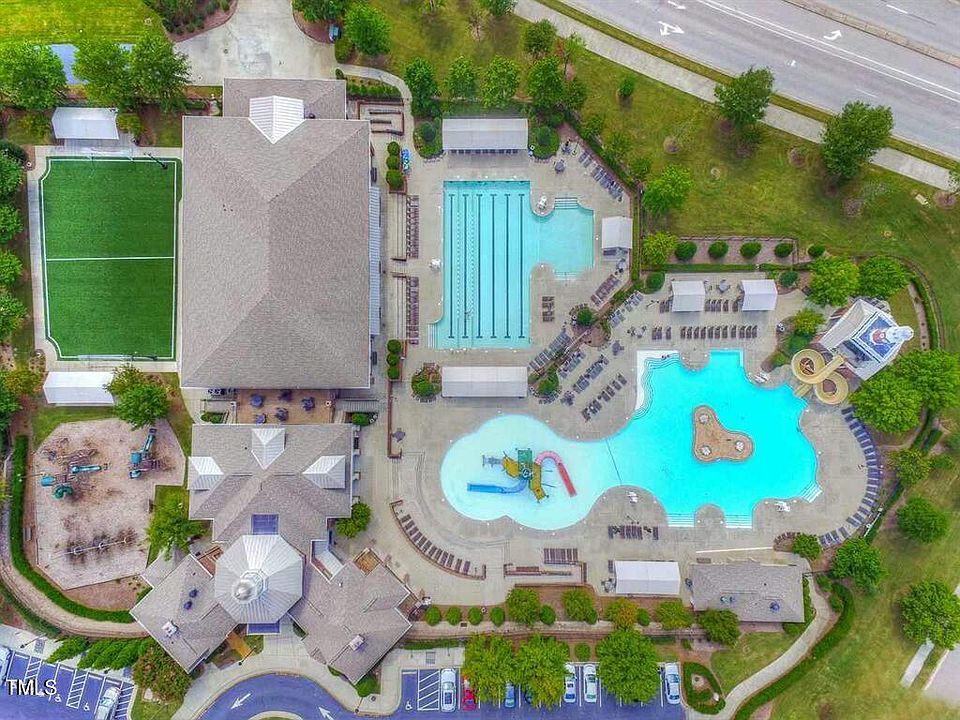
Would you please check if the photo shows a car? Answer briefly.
Yes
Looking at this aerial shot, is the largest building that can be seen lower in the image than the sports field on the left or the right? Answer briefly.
left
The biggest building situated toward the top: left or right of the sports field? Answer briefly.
to the right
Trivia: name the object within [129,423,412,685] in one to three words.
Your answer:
building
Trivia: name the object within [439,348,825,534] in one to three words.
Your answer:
swimming pool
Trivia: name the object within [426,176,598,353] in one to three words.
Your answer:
swimming pool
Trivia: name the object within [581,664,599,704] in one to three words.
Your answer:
car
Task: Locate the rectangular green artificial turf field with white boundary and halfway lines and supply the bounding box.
[39,157,180,359]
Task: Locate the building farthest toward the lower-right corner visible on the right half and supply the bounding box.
[687,562,809,622]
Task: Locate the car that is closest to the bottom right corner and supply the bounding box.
[663,663,682,705]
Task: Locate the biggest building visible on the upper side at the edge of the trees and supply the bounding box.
[179,79,382,389]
